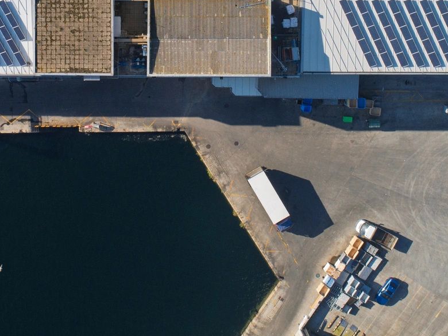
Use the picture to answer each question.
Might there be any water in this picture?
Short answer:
Yes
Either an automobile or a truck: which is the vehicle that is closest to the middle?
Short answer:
truck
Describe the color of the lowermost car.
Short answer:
blue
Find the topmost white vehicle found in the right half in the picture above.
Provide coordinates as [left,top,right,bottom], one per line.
[245,165,297,233]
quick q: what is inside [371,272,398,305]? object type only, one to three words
car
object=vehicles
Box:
[371,272,398,305]
[245,165,297,233]
[353,218,392,247]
